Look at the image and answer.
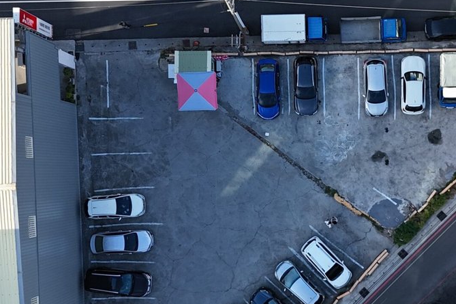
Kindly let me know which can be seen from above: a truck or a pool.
truck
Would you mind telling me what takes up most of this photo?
paved ground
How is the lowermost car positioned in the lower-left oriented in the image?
from side to side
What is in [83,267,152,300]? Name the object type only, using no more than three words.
car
